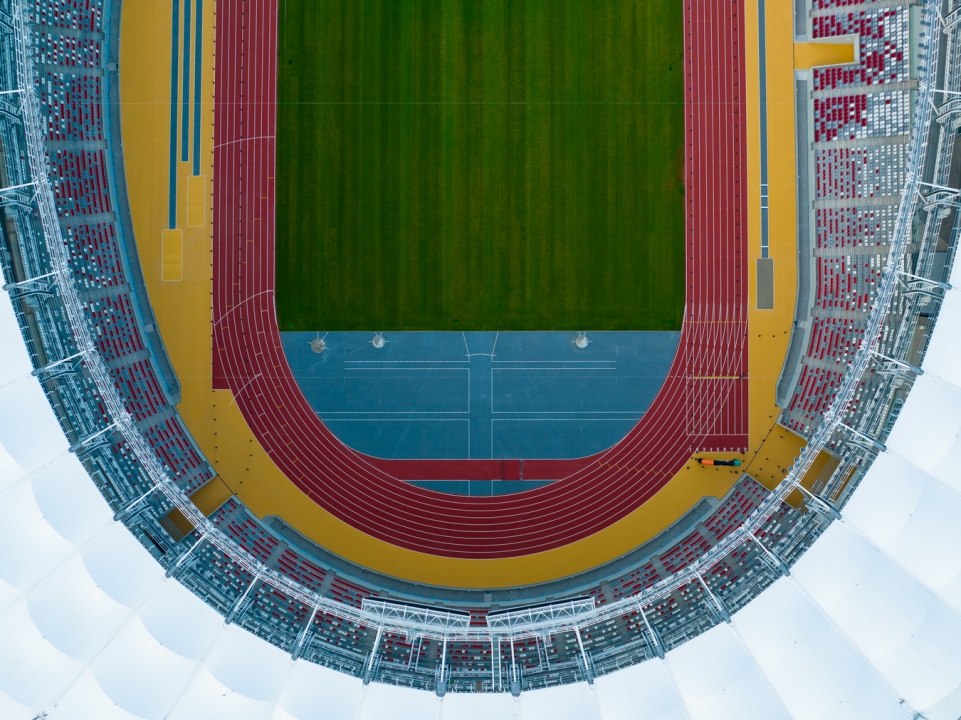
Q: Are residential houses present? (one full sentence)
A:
No, I can't see a single residential house in this photo.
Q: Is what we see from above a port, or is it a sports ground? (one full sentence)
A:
This image shows a sports ground.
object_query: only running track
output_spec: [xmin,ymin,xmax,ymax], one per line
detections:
[212,0,749,560]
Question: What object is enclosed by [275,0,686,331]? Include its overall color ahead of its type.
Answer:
green soccer field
